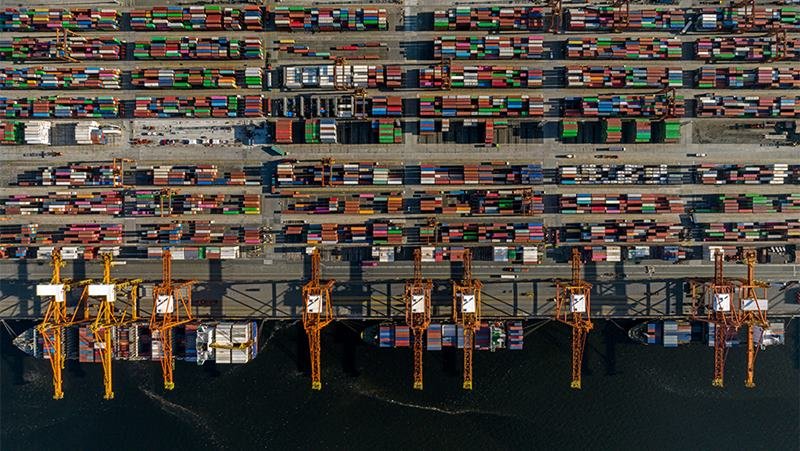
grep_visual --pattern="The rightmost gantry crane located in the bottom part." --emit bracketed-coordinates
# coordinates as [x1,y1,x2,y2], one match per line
[708,246,771,392]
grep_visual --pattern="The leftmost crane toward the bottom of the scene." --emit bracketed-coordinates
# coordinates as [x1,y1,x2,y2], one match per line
[36,249,99,402]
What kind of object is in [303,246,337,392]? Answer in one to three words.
container crane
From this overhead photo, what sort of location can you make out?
port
